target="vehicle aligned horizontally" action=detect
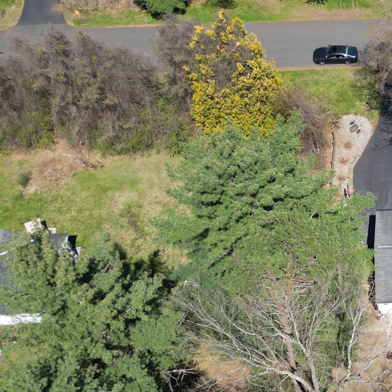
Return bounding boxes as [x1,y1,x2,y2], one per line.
[310,43,359,64]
